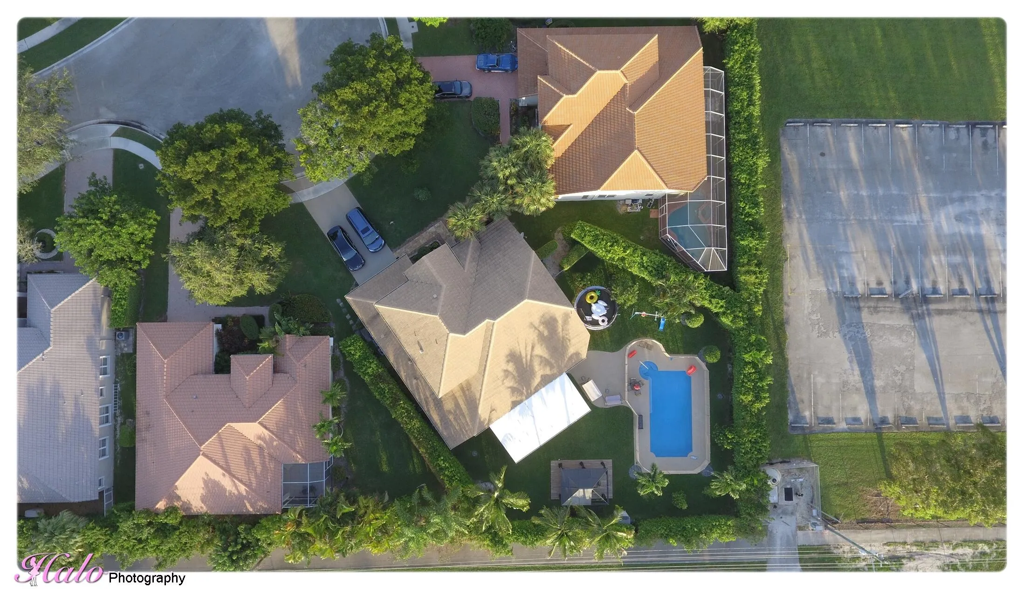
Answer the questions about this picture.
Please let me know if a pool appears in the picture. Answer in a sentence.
Yes, I can see a pool in this picture.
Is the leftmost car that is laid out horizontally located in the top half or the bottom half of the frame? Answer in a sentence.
The leftmost car that is laid out horizontally sits in the top half of the picture.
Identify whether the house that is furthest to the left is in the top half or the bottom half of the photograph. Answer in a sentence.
Seen from above, the house that is furthest to the left lies in the bottom half of the view.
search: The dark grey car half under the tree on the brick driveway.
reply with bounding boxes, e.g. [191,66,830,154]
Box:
[426,78,474,101]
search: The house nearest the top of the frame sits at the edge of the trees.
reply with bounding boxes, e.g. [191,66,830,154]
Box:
[516,26,706,199]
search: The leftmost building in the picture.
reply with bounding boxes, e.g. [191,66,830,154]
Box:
[0,273,117,504]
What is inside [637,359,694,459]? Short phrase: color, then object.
blue swimming pool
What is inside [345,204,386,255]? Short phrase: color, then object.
blue car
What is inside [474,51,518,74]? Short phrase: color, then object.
blue car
